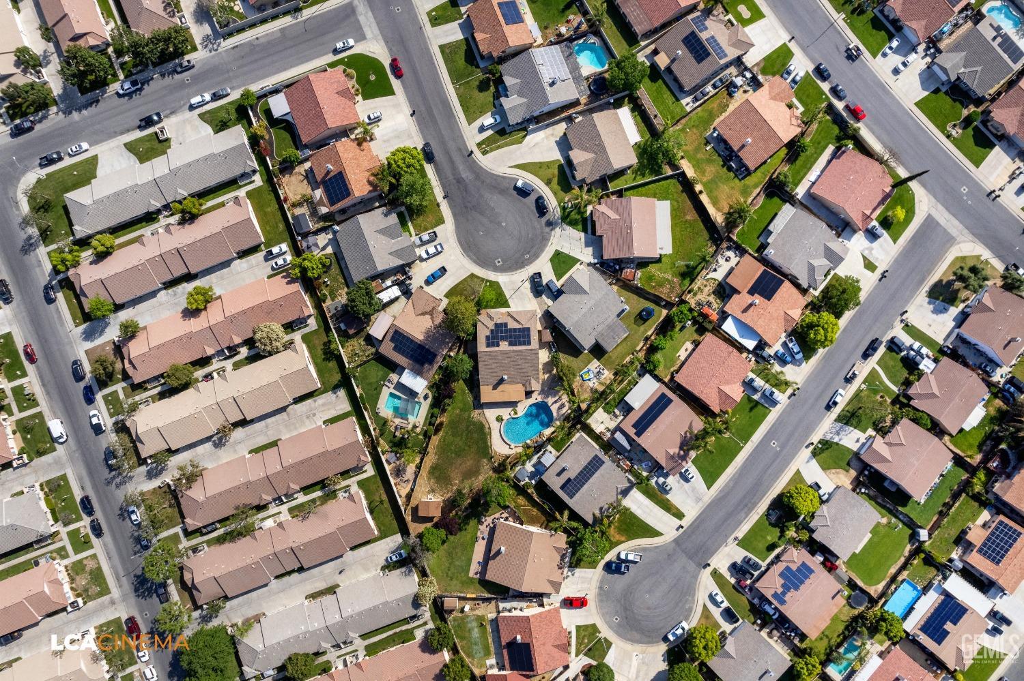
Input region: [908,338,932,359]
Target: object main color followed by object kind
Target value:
white truck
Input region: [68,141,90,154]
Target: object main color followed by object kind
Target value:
white vehicle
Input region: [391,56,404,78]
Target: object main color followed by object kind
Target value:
red vehicle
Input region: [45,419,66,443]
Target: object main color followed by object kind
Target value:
white vehicle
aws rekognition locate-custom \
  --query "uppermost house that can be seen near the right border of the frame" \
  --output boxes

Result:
[880,0,977,44]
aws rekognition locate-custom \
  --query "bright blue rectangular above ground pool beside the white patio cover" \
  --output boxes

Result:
[881,578,924,618]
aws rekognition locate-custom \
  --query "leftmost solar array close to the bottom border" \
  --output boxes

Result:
[507,644,533,671]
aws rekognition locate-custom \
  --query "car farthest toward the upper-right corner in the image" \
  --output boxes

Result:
[936,19,955,39]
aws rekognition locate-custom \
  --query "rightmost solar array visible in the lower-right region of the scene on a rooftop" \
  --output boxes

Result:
[977,521,1021,564]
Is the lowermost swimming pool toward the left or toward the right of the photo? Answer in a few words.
right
